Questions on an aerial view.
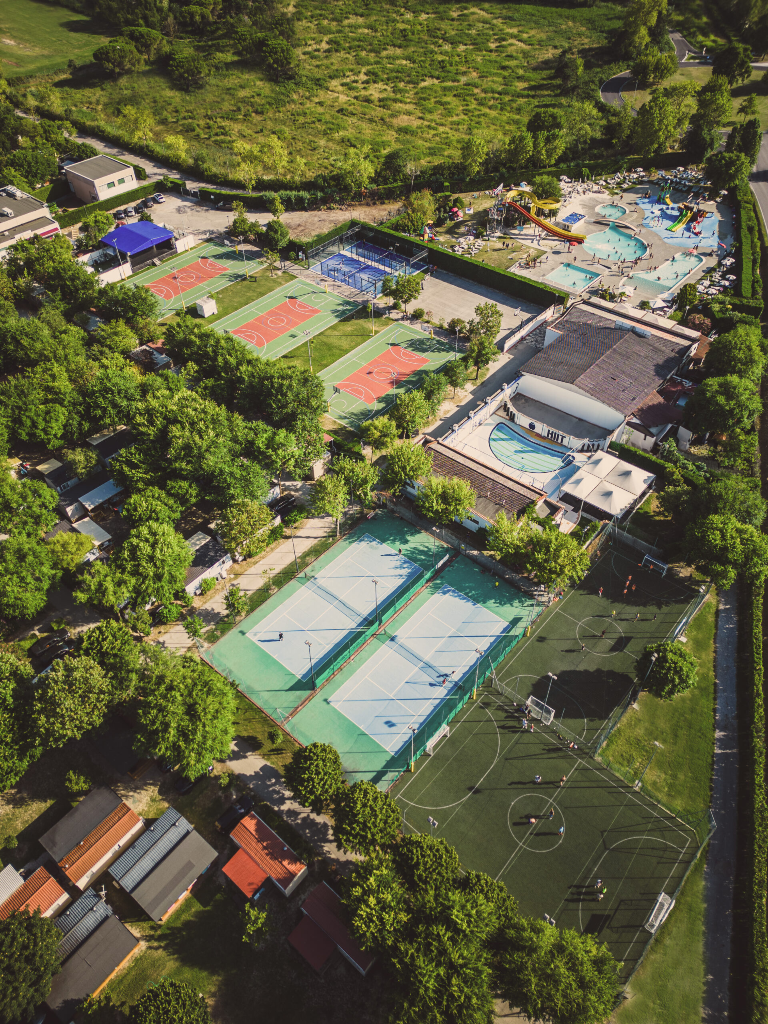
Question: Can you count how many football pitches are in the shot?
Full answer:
I count 2 football pitches.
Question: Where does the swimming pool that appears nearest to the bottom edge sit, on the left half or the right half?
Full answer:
The swimming pool that appears nearest to the bottom edge appears in the right half of the scene.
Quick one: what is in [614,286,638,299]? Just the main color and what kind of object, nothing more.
white umbrella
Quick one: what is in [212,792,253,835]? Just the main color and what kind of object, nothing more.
black car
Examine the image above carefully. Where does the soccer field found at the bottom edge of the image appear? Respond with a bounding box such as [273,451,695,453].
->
[388,678,699,1004]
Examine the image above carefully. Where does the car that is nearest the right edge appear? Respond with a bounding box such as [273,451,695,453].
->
[404,424,426,439]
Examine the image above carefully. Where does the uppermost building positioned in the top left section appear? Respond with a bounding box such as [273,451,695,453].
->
[63,154,139,200]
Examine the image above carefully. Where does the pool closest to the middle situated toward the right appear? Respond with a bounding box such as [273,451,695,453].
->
[488,421,576,474]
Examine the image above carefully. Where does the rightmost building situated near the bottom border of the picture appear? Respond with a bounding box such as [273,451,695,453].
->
[288,882,384,977]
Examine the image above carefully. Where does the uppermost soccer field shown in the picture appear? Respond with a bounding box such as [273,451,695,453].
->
[489,529,703,752]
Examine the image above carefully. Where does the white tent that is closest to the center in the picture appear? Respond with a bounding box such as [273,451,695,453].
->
[558,449,656,532]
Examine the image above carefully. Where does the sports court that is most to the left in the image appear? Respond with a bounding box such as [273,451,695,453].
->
[117,241,268,320]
